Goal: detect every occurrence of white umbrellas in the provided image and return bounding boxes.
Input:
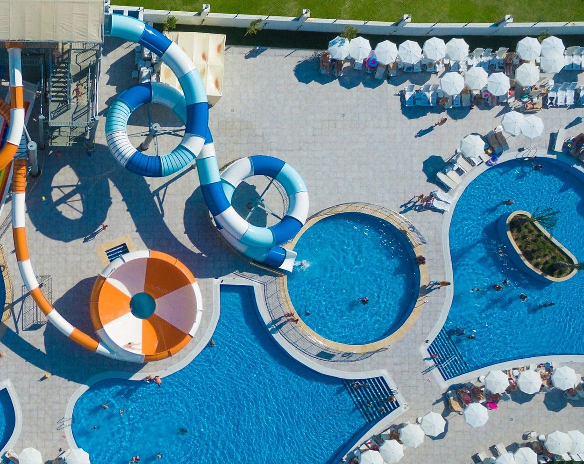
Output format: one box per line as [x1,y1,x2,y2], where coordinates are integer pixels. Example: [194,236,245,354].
[509,64,538,89]
[514,368,542,394]
[494,112,522,137]
[535,56,563,76]
[19,446,43,464]
[437,72,464,98]
[347,37,371,61]
[481,71,510,97]
[418,410,444,435]
[515,116,544,141]
[373,40,397,65]
[536,37,563,58]
[516,37,540,62]
[509,445,536,464]
[396,41,422,67]
[419,36,445,62]
[488,450,515,464]
[565,428,584,453]
[537,429,568,455]
[460,402,488,428]
[463,67,487,92]
[478,368,508,394]
[398,423,423,448]
[444,39,467,62]
[377,439,402,463]
[549,366,575,392]
[67,448,91,464]
[454,133,484,159]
